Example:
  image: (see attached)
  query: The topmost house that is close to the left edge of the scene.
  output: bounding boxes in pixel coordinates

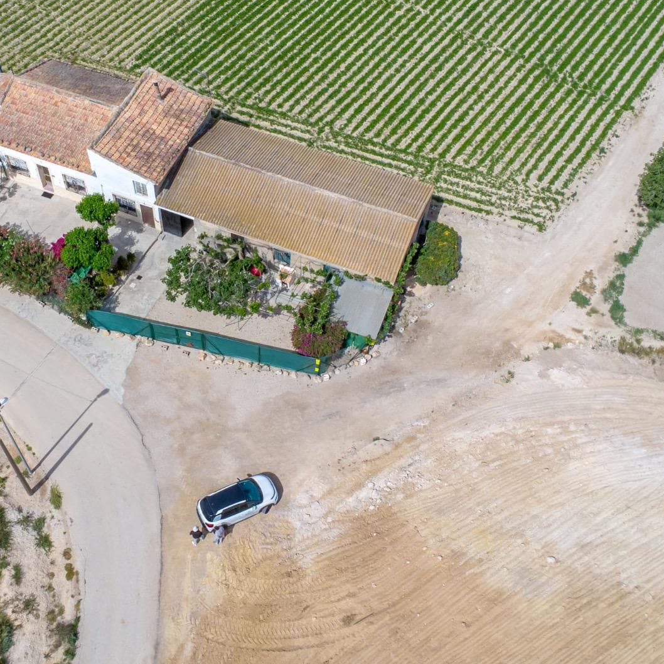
[0,55,211,232]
